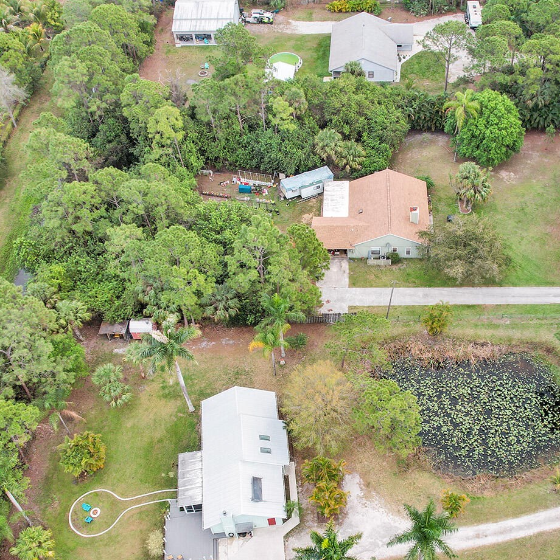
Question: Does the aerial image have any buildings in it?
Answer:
Yes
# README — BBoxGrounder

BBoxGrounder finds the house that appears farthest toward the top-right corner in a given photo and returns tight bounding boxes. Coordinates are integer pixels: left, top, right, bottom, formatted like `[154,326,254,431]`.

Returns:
[329,14,414,81]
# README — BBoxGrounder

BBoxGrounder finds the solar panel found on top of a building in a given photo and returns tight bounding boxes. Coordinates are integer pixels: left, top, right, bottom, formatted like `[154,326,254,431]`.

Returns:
[251,474,270,502]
